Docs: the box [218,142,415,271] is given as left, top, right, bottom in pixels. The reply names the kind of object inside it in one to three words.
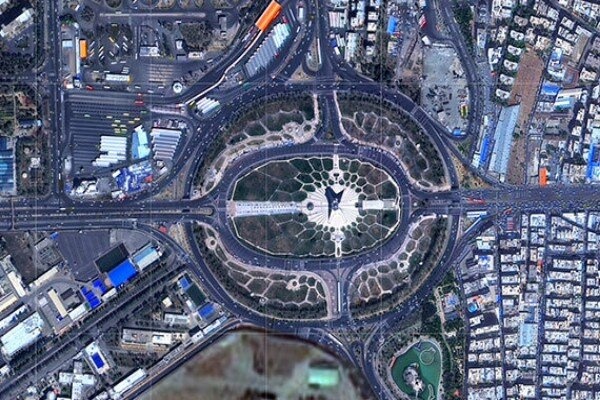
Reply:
roundabout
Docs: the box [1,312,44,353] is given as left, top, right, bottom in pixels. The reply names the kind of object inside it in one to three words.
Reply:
building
